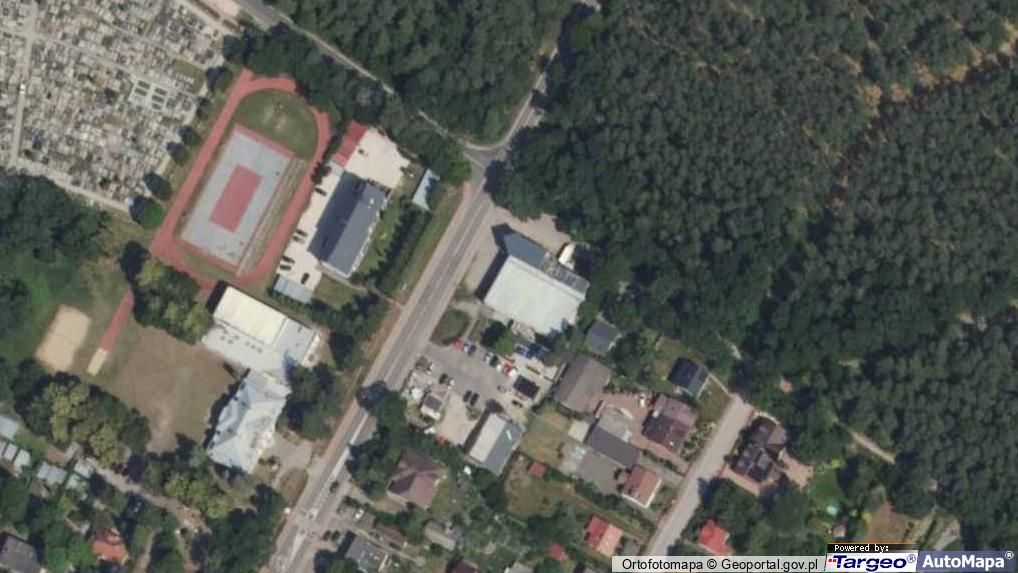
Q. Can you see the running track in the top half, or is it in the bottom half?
top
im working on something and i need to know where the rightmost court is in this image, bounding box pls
[176,122,298,276]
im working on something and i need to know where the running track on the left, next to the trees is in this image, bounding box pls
[150,68,330,289]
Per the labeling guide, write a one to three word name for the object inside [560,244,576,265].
vehicle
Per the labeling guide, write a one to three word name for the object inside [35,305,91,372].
sports court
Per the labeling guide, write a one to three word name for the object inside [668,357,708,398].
house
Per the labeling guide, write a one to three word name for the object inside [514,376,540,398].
building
